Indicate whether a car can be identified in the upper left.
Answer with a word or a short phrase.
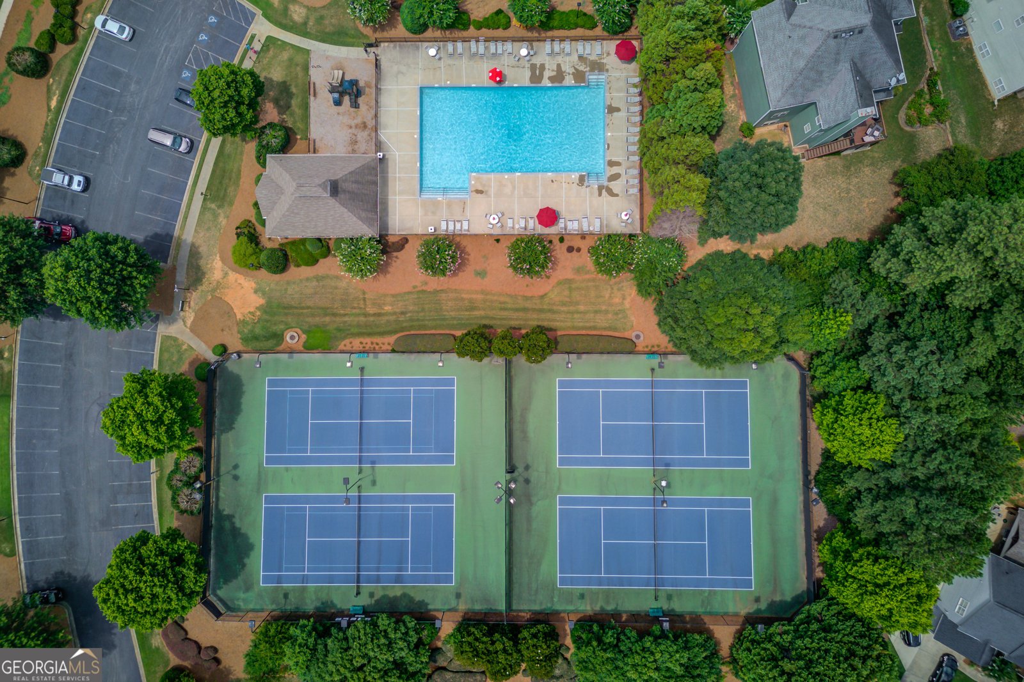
Yes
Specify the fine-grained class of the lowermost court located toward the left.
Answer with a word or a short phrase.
tennis court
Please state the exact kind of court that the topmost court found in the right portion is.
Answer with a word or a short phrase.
tennis court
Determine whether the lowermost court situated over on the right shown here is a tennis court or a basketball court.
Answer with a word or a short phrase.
tennis court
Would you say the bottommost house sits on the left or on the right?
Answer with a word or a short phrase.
right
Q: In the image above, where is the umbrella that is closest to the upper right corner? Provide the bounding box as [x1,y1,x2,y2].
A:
[615,41,636,62]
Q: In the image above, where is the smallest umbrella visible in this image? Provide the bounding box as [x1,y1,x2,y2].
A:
[489,69,502,85]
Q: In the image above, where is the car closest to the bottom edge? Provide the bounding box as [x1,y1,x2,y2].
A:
[925,650,956,682]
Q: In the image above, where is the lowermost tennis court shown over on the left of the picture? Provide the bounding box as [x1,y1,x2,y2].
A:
[261,494,455,585]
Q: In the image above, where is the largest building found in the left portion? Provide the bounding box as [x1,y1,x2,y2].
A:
[255,154,380,238]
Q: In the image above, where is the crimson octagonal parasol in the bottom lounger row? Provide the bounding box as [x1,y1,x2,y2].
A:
[537,207,558,228]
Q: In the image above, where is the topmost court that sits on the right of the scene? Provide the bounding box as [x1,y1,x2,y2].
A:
[557,379,750,469]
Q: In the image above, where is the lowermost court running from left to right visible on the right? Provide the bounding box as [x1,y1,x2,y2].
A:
[558,496,753,590]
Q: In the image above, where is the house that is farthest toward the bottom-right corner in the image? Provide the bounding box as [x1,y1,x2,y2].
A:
[923,552,1024,678]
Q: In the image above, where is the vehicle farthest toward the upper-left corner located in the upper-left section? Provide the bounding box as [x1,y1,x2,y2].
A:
[94,15,135,41]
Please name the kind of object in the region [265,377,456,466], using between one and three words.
tennis court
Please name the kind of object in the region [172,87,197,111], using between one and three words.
car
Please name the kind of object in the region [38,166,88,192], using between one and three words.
truck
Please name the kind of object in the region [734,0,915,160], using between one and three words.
building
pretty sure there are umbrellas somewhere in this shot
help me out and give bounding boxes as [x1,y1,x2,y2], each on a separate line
[489,69,502,85]
[537,207,558,228]
[615,41,636,62]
